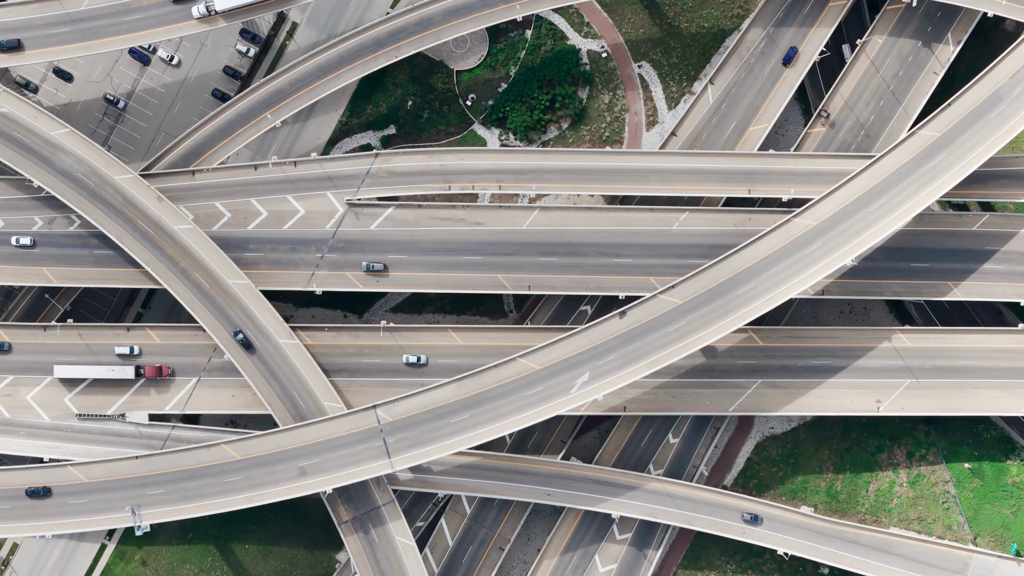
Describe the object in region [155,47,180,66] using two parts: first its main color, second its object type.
white car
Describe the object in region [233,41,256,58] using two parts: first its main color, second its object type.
white car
